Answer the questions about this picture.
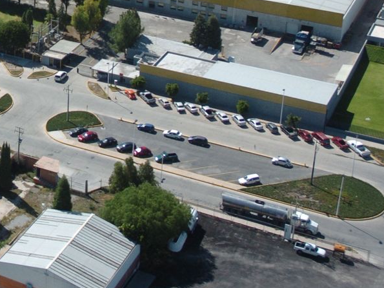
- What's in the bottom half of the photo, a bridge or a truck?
truck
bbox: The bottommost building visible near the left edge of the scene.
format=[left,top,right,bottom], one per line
[0,213,133,288]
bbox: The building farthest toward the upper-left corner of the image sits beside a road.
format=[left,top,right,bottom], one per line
[40,49,70,70]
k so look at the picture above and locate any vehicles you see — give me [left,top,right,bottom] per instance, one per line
[294,243,326,259]
[231,115,249,126]
[137,122,156,130]
[185,103,201,113]
[138,91,157,102]
[280,125,298,136]
[238,170,261,184]
[223,198,316,241]
[248,119,265,130]
[297,129,313,139]
[157,97,173,107]
[53,69,68,81]
[163,128,183,138]
[154,150,179,161]
[264,121,281,132]
[294,31,310,52]
[116,141,136,150]
[124,89,138,99]
[172,102,186,111]
[217,111,232,122]
[252,27,263,40]
[271,156,293,166]
[331,134,351,147]
[79,130,98,139]
[312,130,333,144]
[68,126,87,135]
[199,106,218,117]
[189,134,207,144]
[134,145,151,154]
[98,136,118,145]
